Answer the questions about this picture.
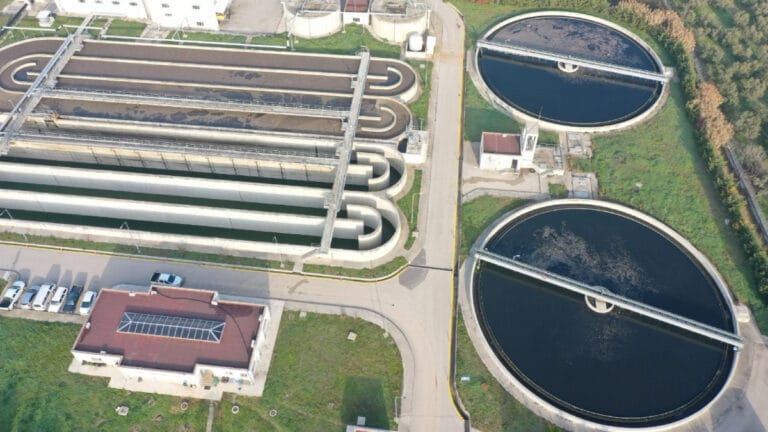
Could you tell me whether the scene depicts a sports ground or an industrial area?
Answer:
industrial area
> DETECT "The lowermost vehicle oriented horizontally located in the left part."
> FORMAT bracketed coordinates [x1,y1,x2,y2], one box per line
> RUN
[149,272,184,287]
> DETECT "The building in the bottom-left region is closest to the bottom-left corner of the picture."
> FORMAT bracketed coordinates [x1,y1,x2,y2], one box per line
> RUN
[70,286,270,386]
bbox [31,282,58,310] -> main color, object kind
white vehicle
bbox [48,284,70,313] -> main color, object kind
white car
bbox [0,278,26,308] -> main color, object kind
white truck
